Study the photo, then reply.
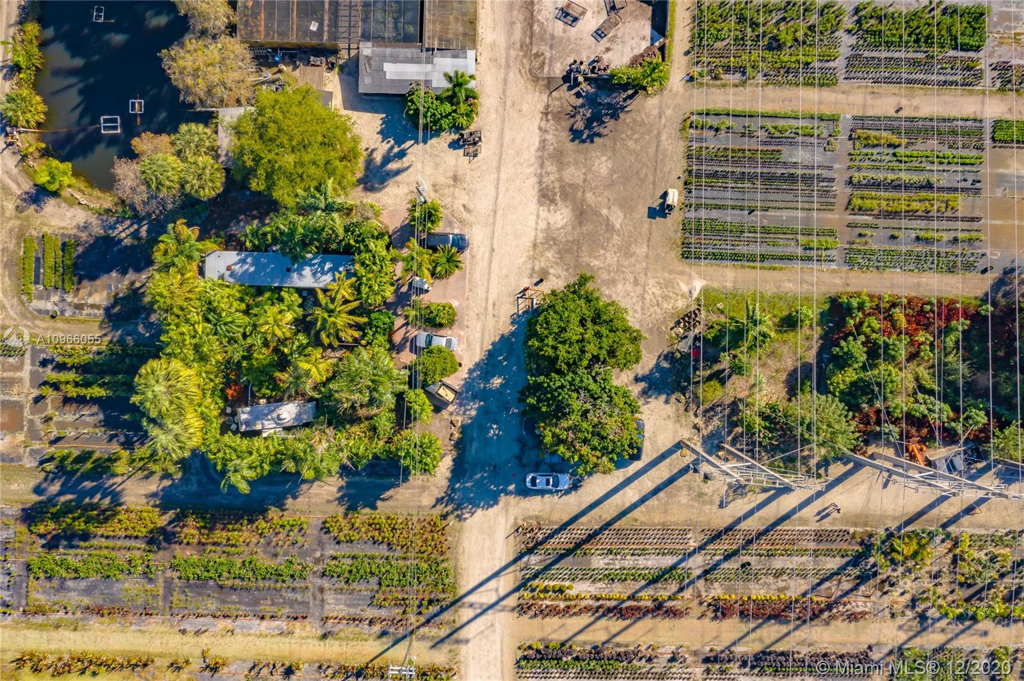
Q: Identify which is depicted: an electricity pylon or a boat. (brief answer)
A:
electricity pylon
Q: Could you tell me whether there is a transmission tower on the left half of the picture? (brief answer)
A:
No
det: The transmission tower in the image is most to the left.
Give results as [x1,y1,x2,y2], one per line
[677,438,826,487]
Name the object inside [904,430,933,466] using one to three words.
work vehicle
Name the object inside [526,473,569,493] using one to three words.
car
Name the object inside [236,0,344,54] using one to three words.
house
